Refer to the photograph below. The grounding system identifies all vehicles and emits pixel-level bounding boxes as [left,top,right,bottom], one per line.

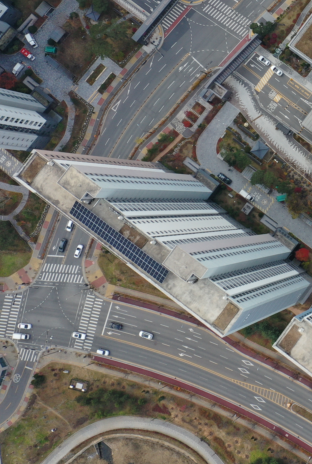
[258,55,271,67]
[95,349,111,356]
[58,238,68,252]
[72,333,87,339]
[237,189,255,201]
[12,60,23,77]
[10,333,30,340]
[109,322,124,329]
[270,65,283,76]
[74,244,85,258]
[66,222,73,233]
[21,32,37,48]
[139,331,153,340]
[19,48,35,59]
[217,173,231,184]
[17,323,33,331]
